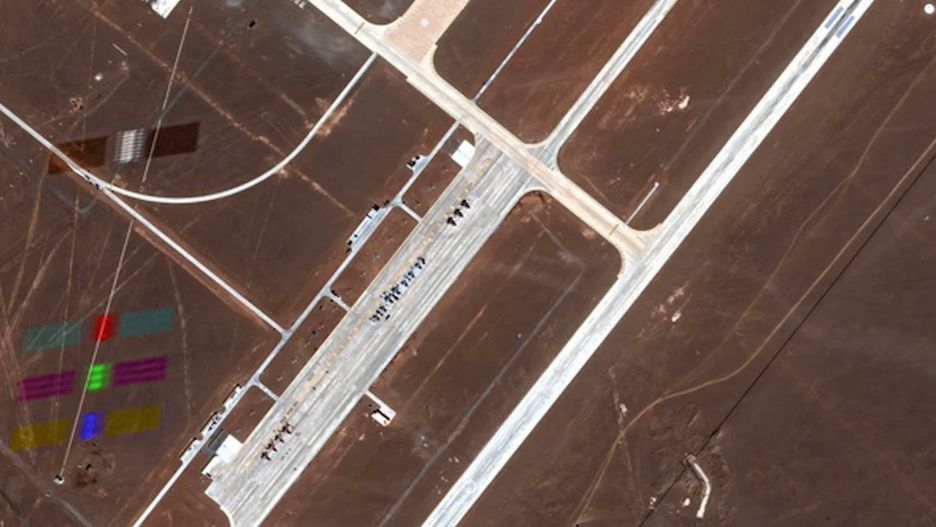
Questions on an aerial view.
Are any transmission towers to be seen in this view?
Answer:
No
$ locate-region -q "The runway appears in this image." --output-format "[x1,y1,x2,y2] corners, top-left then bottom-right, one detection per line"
[420,0,875,527]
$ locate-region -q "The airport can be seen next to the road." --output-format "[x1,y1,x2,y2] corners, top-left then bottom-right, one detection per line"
[205,0,875,527]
